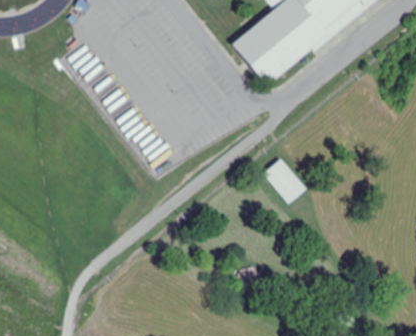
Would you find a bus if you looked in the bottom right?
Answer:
No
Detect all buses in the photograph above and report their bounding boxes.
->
[100,86,126,106]
[146,143,172,163]
[81,62,106,83]
[130,123,156,144]
[114,106,140,126]
[122,120,148,140]
[118,112,144,133]
[91,74,118,94]
[70,52,96,72]
[65,44,91,64]
[139,137,165,158]
[105,93,131,114]
[76,56,102,76]
[148,149,174,170]
[135,130,161,150]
